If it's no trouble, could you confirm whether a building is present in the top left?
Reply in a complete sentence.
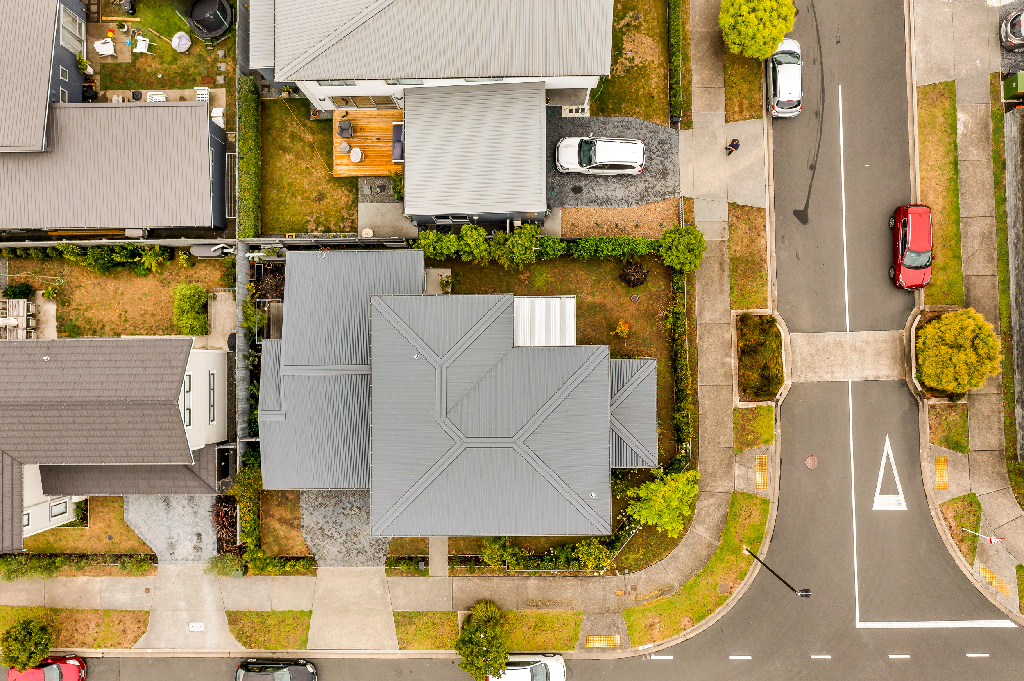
Yes, there is a building in the top left.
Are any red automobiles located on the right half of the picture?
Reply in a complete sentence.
Yes, a red automobile appears on the right half of the picture.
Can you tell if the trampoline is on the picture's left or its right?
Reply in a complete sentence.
The trampoline is on the left side of the image.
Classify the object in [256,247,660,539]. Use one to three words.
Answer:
house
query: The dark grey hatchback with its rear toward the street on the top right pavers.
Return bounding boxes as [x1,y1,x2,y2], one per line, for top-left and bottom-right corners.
[999,13,1024,53]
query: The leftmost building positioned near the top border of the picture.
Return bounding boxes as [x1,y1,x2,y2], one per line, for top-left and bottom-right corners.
[0,0,230,230]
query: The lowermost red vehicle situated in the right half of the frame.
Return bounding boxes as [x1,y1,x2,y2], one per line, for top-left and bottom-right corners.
[886,204,936,292]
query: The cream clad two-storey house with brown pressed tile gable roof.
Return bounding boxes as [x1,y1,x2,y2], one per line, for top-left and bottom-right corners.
[0,337,229,556]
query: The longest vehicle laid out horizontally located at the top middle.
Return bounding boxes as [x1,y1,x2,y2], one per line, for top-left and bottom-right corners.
[554,131,647,177]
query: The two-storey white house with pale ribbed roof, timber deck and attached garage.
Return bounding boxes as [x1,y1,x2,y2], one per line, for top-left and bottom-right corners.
[246,0,615,226]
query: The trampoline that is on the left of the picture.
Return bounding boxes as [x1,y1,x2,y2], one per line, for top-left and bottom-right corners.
[177,0,235,50]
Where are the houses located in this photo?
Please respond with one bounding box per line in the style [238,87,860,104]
[0,0,230,230]
[0,337,229,556]
[246,0,615,226]
[256,247,660,539]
